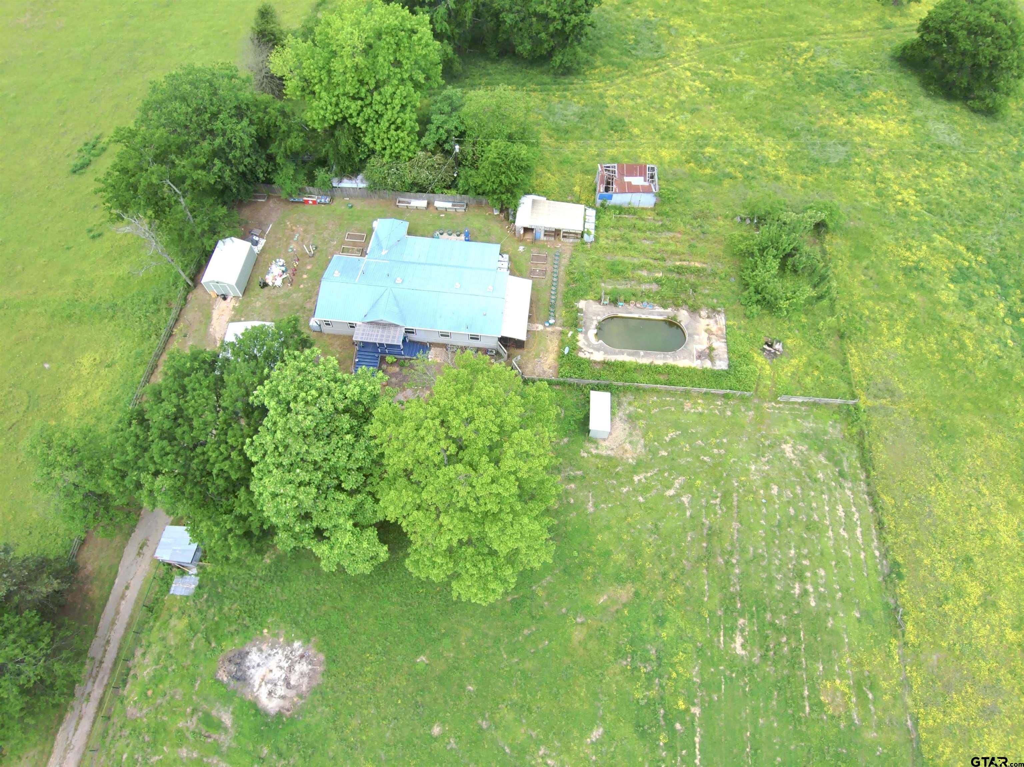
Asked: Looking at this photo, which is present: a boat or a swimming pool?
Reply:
swimming pool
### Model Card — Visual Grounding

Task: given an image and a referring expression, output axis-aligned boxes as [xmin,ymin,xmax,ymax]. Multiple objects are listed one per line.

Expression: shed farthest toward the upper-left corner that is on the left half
[201,236,255,296]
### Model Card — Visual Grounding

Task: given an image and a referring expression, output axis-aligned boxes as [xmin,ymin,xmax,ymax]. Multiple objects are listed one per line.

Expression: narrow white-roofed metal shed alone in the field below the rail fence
[589,390,613,438]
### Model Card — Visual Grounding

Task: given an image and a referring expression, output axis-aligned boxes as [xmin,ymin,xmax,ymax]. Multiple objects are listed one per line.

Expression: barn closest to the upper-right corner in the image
[595,165,658,207]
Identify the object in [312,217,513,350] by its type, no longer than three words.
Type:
house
